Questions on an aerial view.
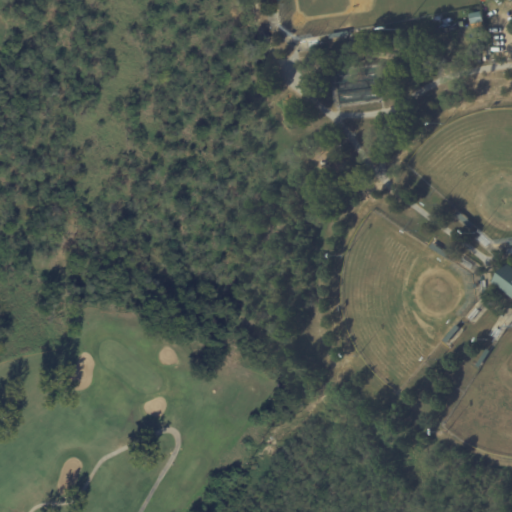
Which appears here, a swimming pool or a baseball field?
baseball field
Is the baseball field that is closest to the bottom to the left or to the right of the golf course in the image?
on the right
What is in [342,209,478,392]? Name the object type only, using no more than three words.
baseball field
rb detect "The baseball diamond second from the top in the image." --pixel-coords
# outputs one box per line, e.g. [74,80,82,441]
[408,108,512,244]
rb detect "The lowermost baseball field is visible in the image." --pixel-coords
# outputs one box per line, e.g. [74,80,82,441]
[444,323,512,458]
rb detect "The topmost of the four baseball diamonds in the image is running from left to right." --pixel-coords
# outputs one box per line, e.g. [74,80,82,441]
[280,0,482,36]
